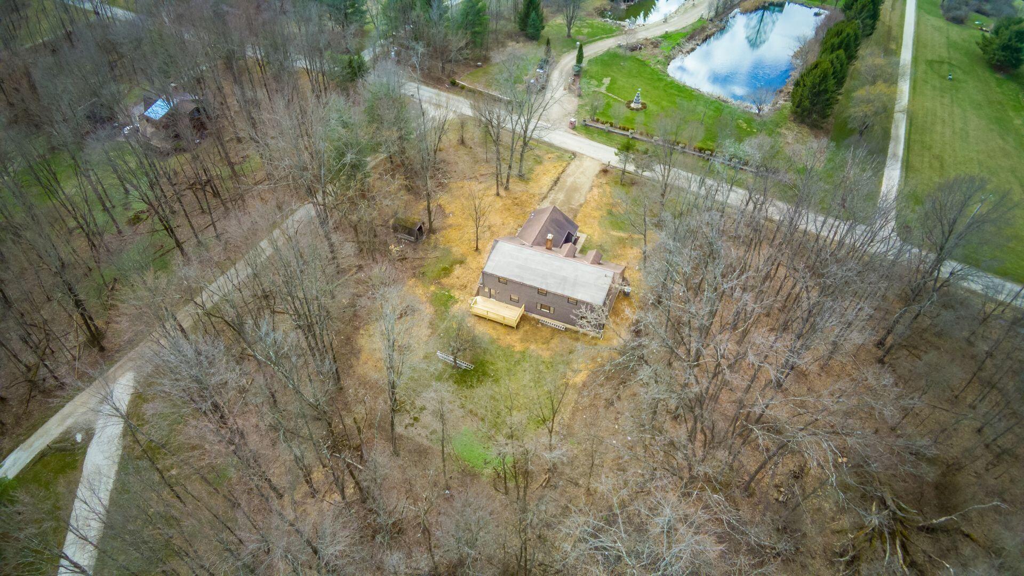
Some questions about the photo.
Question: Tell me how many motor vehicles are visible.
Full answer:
The picture shows no motor vehicles.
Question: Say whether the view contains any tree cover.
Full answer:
Yes, some tree cover is visible.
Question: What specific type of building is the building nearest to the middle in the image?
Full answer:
The building nearest to the middle in the image is a residential house.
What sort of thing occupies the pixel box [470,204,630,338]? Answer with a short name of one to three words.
house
